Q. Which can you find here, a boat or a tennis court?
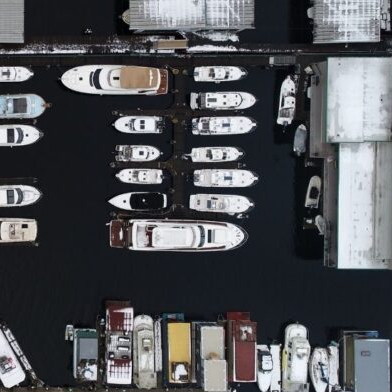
boat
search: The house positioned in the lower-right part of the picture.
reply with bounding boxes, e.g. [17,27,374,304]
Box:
[339,329,391,392]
